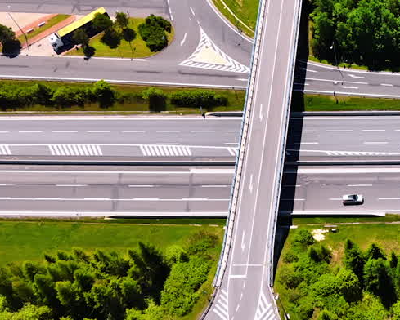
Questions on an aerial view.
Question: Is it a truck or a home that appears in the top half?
truck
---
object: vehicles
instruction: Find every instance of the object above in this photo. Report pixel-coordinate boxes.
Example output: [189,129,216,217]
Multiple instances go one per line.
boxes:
[344,195,362,204]
[47,11,109,54]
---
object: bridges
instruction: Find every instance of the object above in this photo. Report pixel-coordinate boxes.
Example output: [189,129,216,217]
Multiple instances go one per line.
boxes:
[212,0,302,286]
